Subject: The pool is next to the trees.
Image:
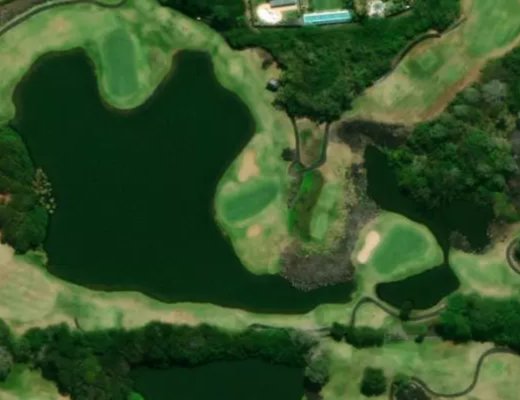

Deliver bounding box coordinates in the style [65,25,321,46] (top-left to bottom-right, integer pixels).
[304,11,352,23]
